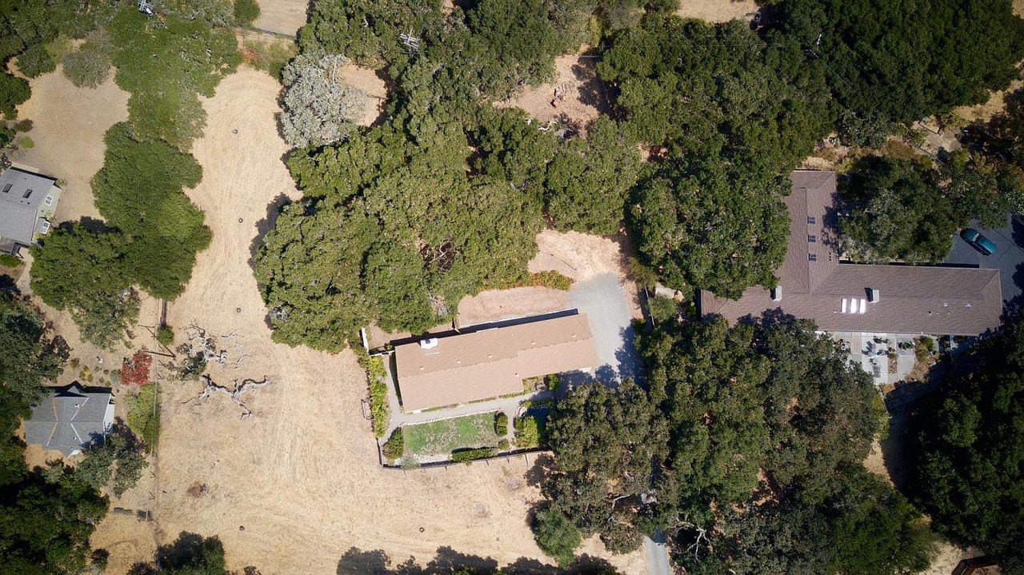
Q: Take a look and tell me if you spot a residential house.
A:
Yes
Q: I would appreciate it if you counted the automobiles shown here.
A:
1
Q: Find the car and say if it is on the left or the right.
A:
right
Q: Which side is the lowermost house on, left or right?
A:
left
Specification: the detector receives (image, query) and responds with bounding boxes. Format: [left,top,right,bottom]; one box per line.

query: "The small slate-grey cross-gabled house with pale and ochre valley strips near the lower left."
[26,388,120,459]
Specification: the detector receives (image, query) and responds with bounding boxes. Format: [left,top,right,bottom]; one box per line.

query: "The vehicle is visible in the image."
[962,228,1002,257]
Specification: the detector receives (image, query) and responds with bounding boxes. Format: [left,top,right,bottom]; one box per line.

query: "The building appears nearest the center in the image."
[395,312,597,413]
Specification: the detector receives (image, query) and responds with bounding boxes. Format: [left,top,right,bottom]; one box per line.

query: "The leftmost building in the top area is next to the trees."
[0,164,68,256]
